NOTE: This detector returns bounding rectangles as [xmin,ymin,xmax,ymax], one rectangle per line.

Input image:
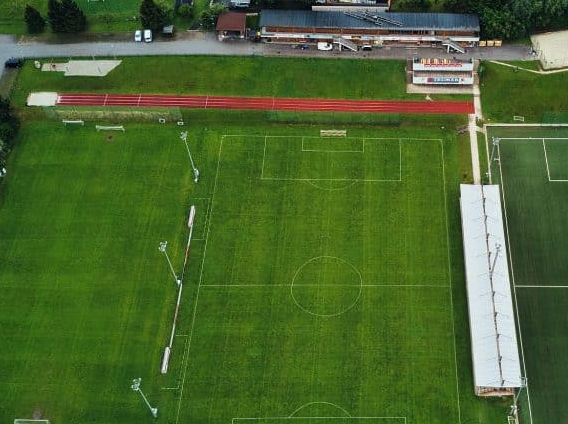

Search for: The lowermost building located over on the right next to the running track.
[257,10,481,53]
